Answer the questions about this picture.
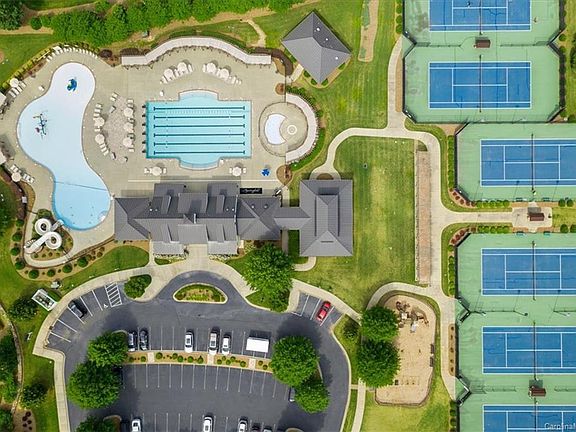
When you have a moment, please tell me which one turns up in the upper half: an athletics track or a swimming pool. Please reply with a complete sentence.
The one visible in the upper half is a swimming pool.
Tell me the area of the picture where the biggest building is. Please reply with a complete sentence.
Look in the center portion of the view to spot the biggest building.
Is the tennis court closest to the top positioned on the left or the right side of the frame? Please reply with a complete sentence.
The tennis court closest to the top is on the right side of the image.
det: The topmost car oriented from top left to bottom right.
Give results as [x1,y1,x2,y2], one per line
[68,299,87,320]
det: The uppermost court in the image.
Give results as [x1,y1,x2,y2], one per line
[403,0,560,45]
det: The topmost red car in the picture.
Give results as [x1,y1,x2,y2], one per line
[317,302,330,323]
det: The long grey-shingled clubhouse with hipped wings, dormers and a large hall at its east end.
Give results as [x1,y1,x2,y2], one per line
[113,180,353,256]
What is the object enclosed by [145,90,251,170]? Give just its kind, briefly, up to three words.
swimming pool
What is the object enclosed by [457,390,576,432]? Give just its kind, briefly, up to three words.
tennis court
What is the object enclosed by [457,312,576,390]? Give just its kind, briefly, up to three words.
tennis court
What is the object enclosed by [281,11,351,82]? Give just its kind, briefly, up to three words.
building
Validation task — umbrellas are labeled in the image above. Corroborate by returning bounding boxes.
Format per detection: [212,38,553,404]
[123,123,134,133]
[94,134,106,145]
[123,137,134,147]
[11,172,22,182]
[95,117,105,127]
[219,69,230,80]
[177,62,188,73]
[206,63,217,74]
[232,166,242,177]
[10,78,20,88]
[164,69,174,79]
[123,107,134,118]
[152,166,163,177]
